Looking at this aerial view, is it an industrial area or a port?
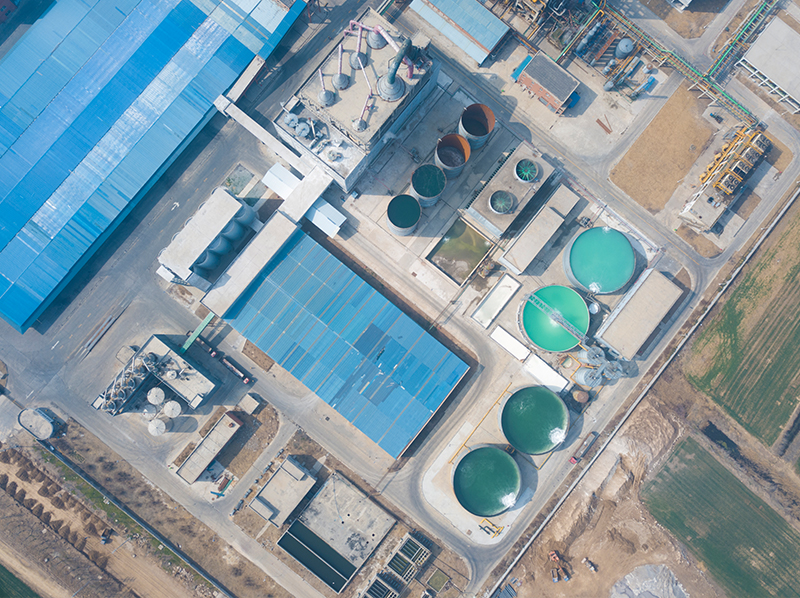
industrial area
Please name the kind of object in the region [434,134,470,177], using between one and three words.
storage tank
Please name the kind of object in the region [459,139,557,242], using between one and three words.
cooling tower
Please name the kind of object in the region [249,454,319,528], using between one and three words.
building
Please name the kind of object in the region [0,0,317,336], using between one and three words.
warehouse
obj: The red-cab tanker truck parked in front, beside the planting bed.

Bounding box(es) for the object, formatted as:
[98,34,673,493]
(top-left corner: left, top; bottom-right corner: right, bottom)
[219,356,249,385]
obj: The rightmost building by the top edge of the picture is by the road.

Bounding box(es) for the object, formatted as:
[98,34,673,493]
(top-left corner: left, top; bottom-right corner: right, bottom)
[726,16,800,124]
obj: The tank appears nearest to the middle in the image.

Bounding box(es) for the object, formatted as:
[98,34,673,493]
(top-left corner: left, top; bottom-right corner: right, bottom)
[387,194,421,235]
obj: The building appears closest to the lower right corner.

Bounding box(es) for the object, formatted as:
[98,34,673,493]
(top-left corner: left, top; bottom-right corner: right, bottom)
[595,270,684,361]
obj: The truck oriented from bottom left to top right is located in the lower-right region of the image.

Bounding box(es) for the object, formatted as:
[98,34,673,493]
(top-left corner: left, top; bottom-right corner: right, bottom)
[570,433,598,467]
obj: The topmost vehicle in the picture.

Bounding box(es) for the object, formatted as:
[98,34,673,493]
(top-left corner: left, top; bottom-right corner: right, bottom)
[184,331,217,359]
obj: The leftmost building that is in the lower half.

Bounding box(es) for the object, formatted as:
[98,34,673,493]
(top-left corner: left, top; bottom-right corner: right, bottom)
[17,407,60,441]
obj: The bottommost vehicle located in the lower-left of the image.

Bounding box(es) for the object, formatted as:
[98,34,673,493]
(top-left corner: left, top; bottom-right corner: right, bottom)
[97,530,111,546]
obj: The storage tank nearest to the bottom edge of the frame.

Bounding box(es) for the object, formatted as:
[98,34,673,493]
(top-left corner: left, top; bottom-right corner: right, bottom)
[452,445,521,517]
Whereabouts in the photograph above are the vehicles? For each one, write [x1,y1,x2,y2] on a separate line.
[219,356,249,385]
[97,530,111,546]
[558,566,572,585]
[549,550,566,578]
[570,433,598,467]
[184,331,217,359]
[581,557,598,575]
